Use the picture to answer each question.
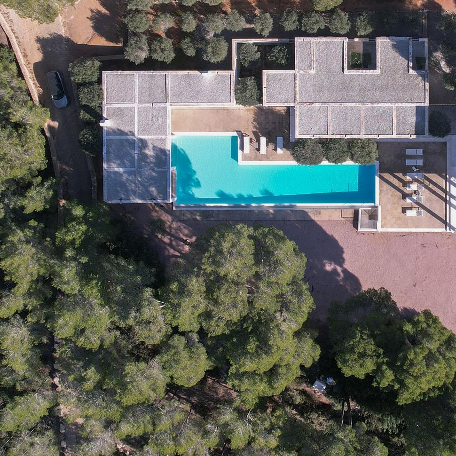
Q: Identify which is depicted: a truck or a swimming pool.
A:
swimming pool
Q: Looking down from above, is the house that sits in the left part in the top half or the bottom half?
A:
top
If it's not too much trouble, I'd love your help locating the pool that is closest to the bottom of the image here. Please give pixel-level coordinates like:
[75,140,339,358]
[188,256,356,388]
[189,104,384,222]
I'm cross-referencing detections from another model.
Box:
[170,132,378,210]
